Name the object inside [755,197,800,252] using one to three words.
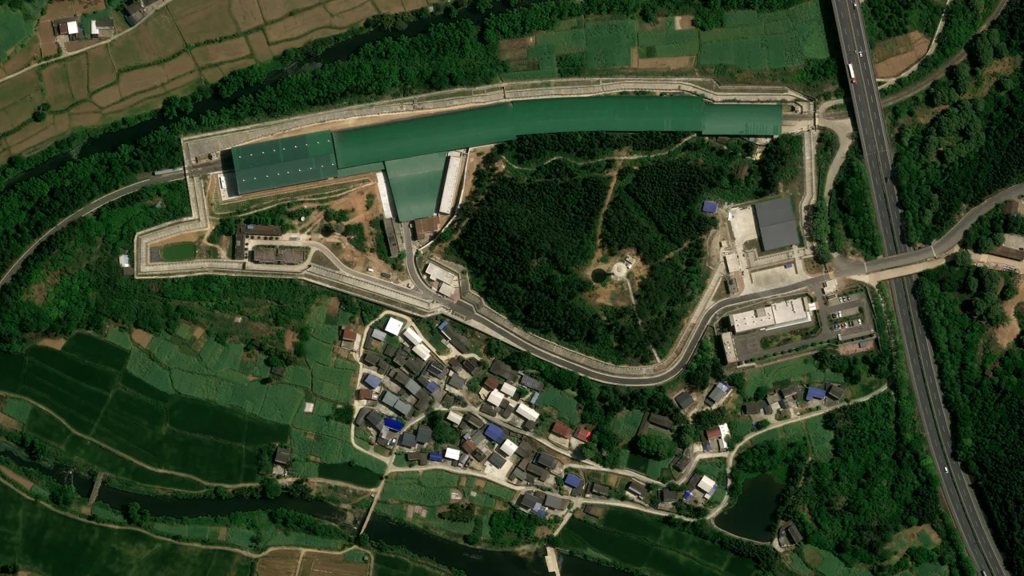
building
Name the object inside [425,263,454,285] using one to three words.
building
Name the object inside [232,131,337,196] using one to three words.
shed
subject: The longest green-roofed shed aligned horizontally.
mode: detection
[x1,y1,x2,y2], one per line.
[333,96,702,169]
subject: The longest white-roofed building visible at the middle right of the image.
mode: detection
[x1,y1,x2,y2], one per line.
[733,297,812,333]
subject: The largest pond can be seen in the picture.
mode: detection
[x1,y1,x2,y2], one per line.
[716,475,783,540]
